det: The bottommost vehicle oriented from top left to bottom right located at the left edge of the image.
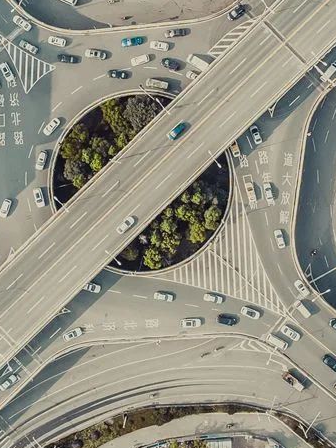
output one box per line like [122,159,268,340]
[0,61,15,81]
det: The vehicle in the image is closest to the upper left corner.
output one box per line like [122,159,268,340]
[12,16,30,31]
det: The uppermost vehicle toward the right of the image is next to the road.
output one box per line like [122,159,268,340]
[228,3,246,19]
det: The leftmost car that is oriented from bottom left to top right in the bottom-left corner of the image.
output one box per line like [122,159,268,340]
[1,373,20,390]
